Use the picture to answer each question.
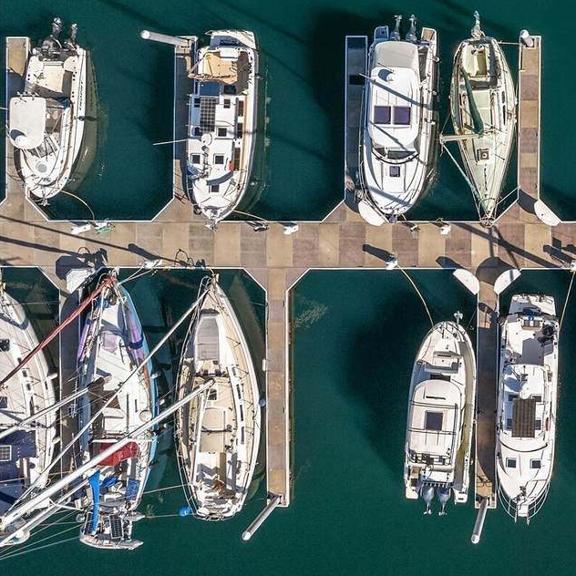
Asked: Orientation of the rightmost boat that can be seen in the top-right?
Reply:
vertically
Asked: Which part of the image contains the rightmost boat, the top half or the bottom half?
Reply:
bottom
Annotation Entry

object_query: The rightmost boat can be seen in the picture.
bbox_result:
[495,294,559,519]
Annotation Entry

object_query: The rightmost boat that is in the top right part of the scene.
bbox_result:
[440,8,516,224]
